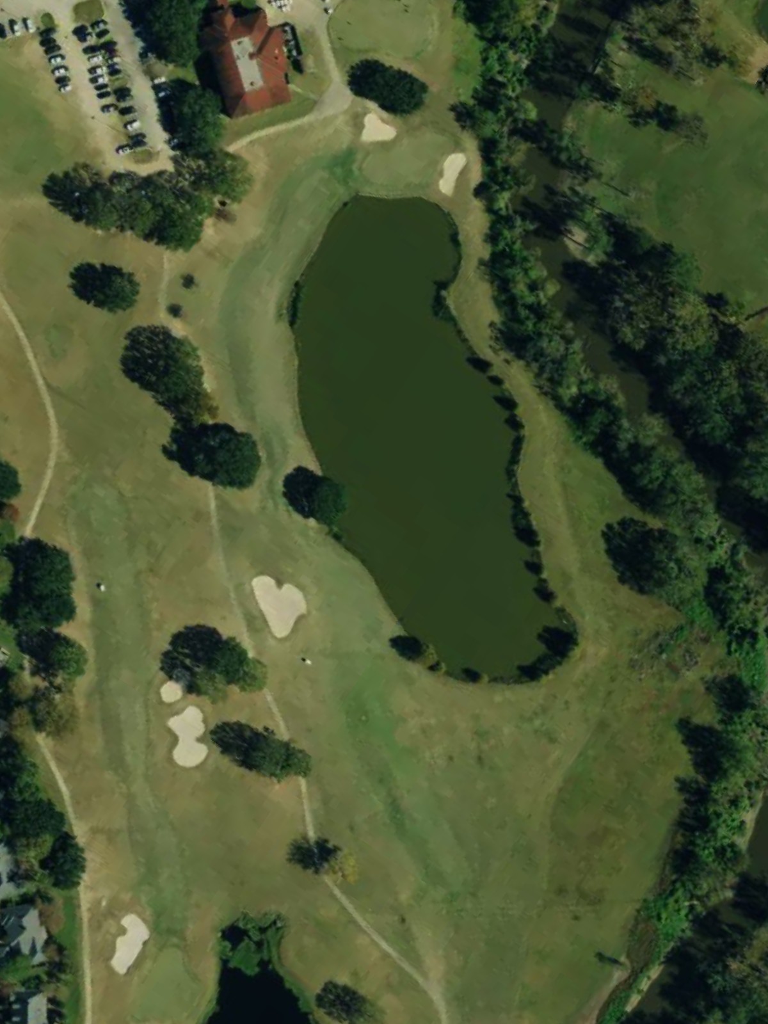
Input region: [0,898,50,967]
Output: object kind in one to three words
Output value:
house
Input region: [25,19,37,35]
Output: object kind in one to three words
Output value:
vehicle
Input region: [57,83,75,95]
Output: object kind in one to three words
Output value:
vehicle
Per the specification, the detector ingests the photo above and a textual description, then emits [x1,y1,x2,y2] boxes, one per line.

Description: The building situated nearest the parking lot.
[207,0,291,116]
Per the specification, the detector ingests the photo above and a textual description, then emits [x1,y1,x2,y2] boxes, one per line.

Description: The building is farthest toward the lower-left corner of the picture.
[7,993,46,1024]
